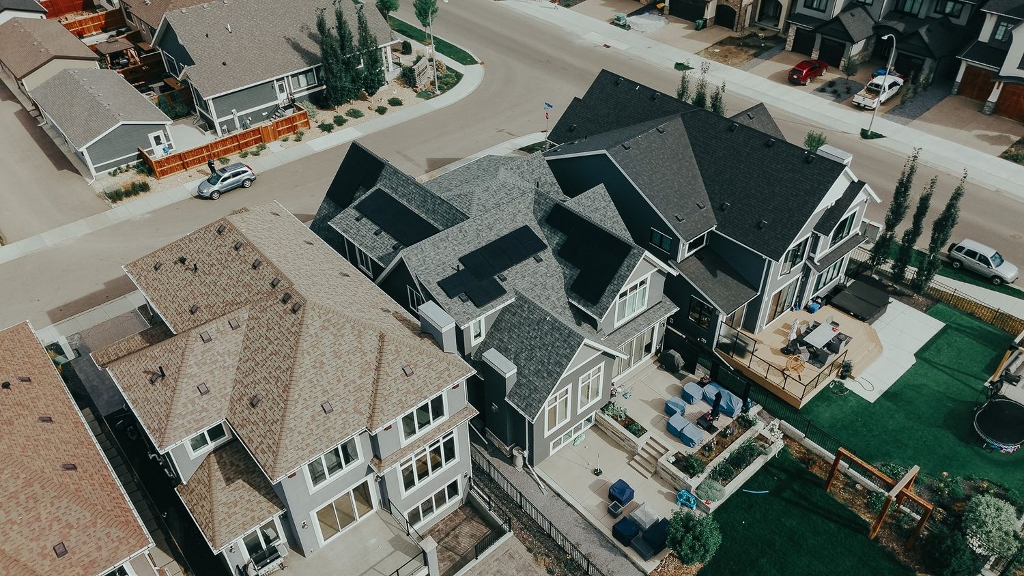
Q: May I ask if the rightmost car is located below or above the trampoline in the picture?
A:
above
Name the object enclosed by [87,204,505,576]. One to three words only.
house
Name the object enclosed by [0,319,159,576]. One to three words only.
house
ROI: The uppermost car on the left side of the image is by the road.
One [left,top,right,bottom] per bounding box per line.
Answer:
[194,161,259,200]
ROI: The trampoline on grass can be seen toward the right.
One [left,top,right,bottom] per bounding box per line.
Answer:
[968,399,1024,461]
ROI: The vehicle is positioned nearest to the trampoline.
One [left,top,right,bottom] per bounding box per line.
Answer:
[944,235,1024,286]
